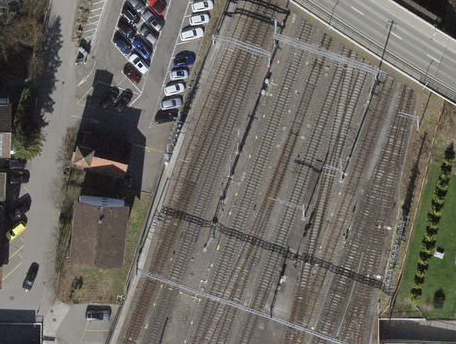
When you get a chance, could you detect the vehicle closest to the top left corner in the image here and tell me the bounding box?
[76,40,89,62]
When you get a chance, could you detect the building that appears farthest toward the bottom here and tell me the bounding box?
[0,323,42,344]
